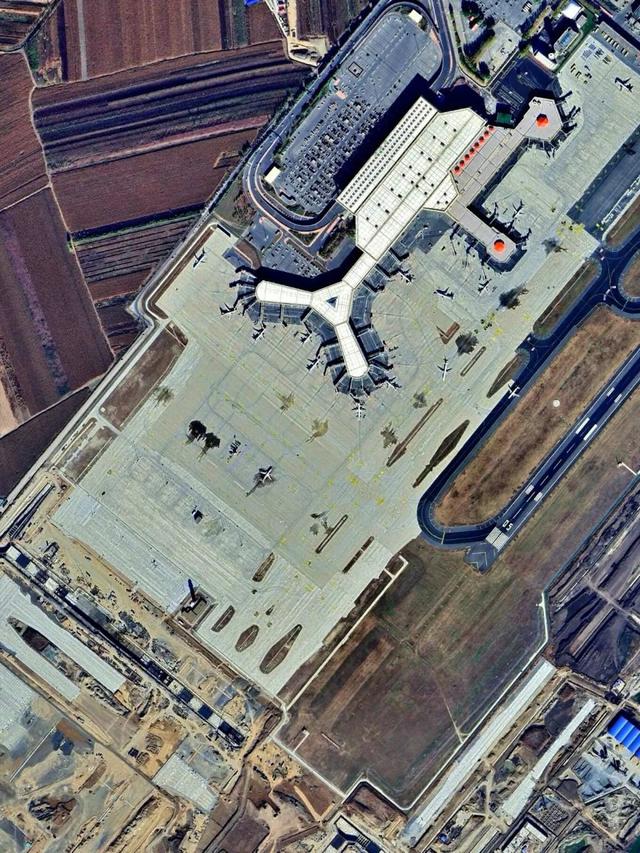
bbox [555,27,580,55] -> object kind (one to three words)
building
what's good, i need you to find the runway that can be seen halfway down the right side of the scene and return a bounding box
[464,342,640,575]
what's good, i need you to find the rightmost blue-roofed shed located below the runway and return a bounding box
[608,715,640,756]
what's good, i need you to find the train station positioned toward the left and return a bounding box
[0,541,247,750]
